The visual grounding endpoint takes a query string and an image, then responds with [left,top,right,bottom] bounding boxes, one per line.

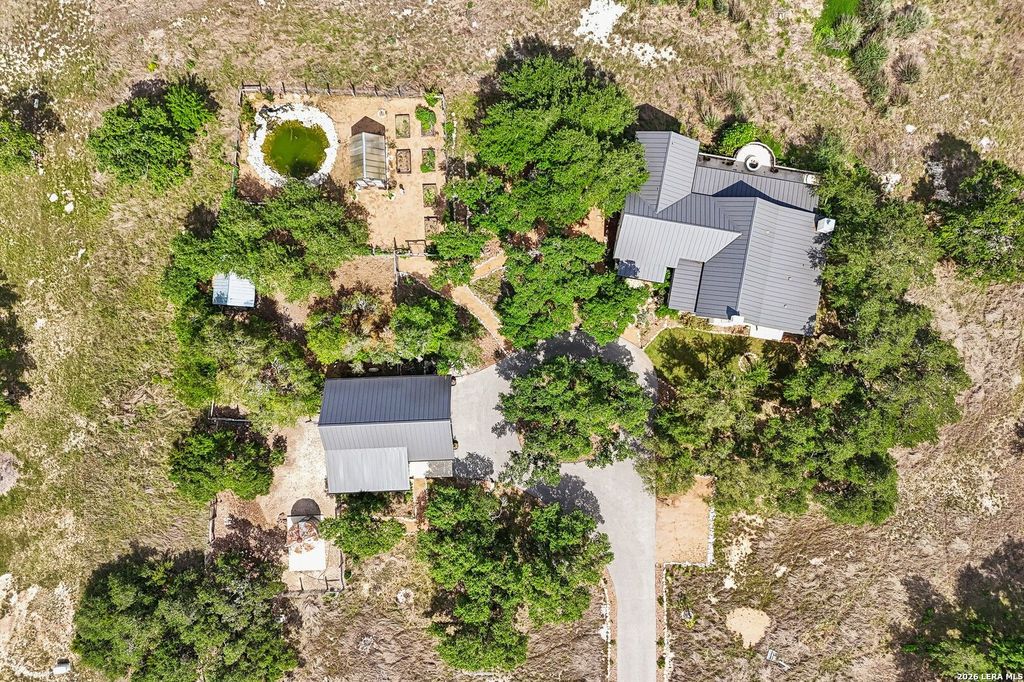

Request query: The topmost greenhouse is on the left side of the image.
[348,132,389,189]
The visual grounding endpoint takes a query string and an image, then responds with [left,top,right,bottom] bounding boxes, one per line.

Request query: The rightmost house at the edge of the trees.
[613,131,836,336]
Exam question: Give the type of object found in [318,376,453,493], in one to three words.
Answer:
building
